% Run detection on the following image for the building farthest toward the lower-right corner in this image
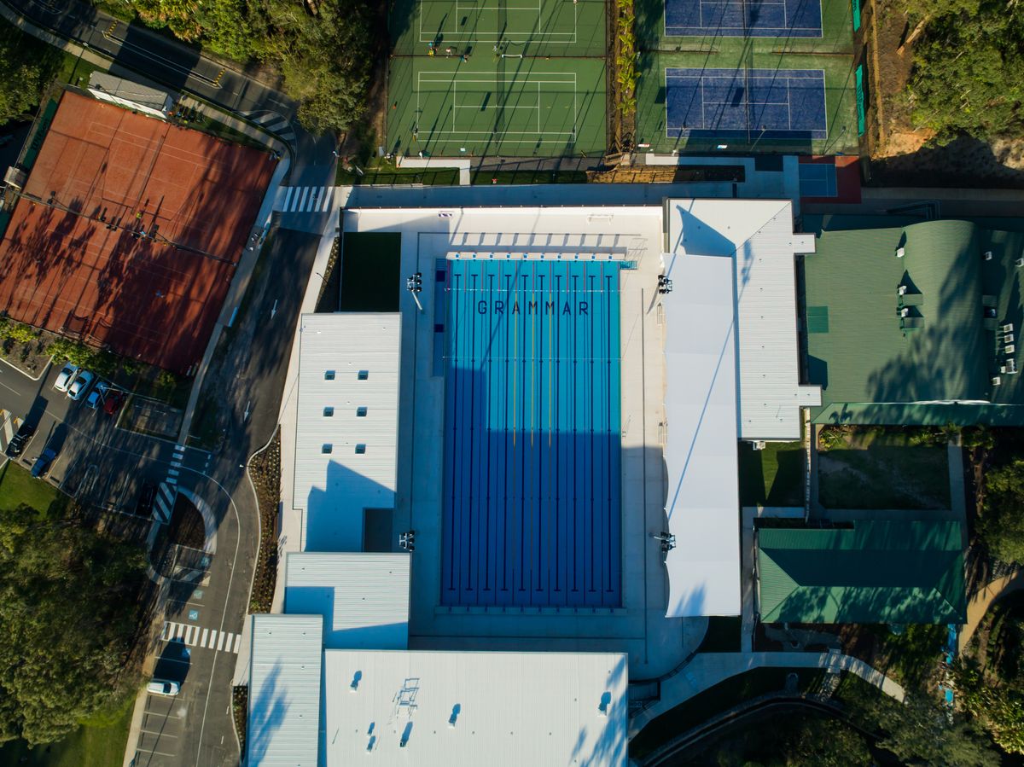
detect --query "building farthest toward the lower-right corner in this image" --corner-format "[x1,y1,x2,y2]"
[756,520,968,625]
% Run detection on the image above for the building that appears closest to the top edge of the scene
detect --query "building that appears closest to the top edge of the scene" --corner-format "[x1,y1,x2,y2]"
[87,70,177,120]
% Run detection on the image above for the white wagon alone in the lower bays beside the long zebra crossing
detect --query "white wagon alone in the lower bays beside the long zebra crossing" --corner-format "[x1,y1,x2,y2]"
[142,680,179,699]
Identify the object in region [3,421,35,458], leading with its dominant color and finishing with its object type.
black car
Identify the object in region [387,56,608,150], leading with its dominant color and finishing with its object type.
green tennis court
